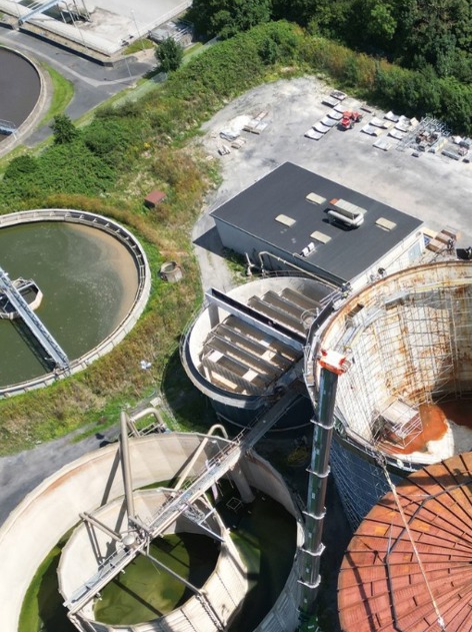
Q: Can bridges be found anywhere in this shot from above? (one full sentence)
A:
Yes, the image includes a bridge.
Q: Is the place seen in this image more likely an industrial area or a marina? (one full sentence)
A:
The area seen from above is an industrial area.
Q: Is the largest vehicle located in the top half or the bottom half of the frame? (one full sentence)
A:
It is in the top half that the largest vehicle appears.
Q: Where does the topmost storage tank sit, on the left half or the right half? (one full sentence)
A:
The topmost storage tank sits on the left side.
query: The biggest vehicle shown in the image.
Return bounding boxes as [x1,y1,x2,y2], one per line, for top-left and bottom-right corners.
[336,108,361,129]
